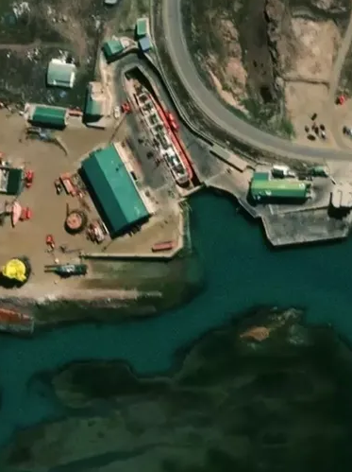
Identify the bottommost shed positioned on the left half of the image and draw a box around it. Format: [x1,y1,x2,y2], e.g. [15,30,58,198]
[83,142,155,232]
